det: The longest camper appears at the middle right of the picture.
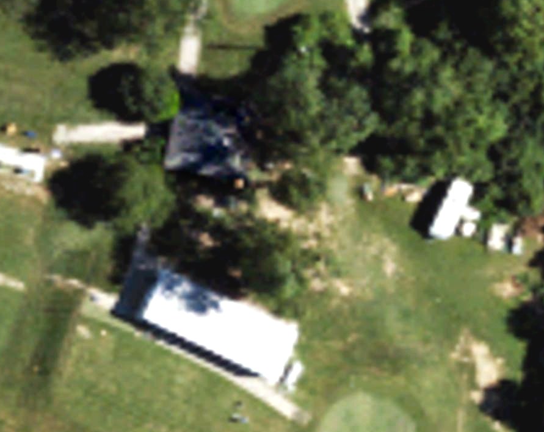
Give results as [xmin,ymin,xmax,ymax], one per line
[432,178,471,239]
